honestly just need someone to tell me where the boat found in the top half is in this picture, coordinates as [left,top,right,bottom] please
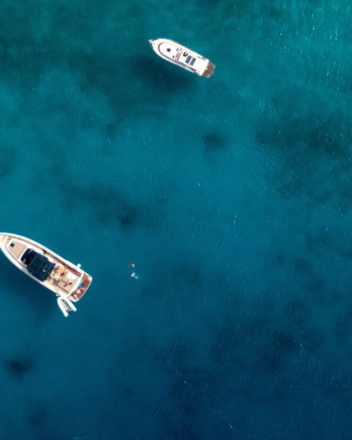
[150,38,215,78]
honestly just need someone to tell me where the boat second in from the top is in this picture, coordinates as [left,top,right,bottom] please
[0,233,93,302]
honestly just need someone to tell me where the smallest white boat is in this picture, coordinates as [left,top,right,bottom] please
[60,296,74,315]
